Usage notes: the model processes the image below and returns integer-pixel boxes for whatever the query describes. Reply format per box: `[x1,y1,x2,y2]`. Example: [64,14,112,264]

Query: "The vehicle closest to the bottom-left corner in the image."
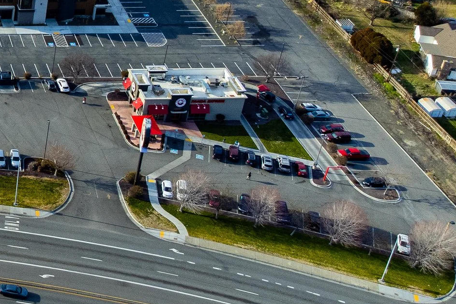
[0,284,28,299]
